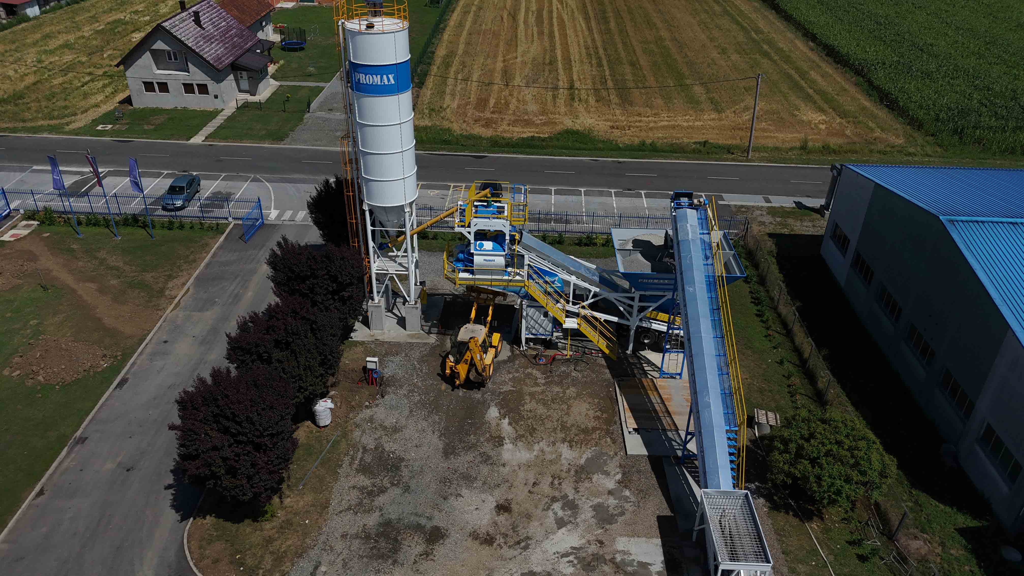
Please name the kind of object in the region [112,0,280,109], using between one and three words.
house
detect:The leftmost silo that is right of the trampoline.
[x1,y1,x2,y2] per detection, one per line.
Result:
[326,0,430,335]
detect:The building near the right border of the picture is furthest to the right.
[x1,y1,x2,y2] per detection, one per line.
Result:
[818,162,1024,531]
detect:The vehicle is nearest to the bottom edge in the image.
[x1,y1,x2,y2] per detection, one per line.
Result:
[441,290,505,387]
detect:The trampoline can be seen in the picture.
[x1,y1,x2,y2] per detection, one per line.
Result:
[277,28,306,53]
